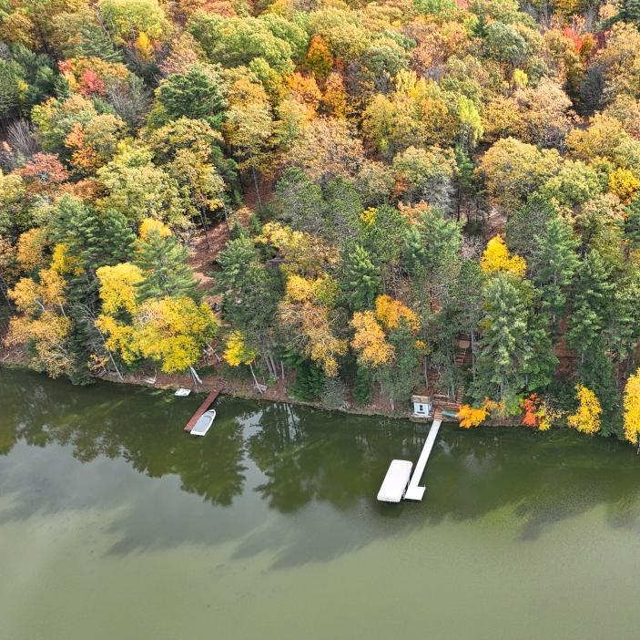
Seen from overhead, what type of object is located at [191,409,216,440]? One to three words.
boat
